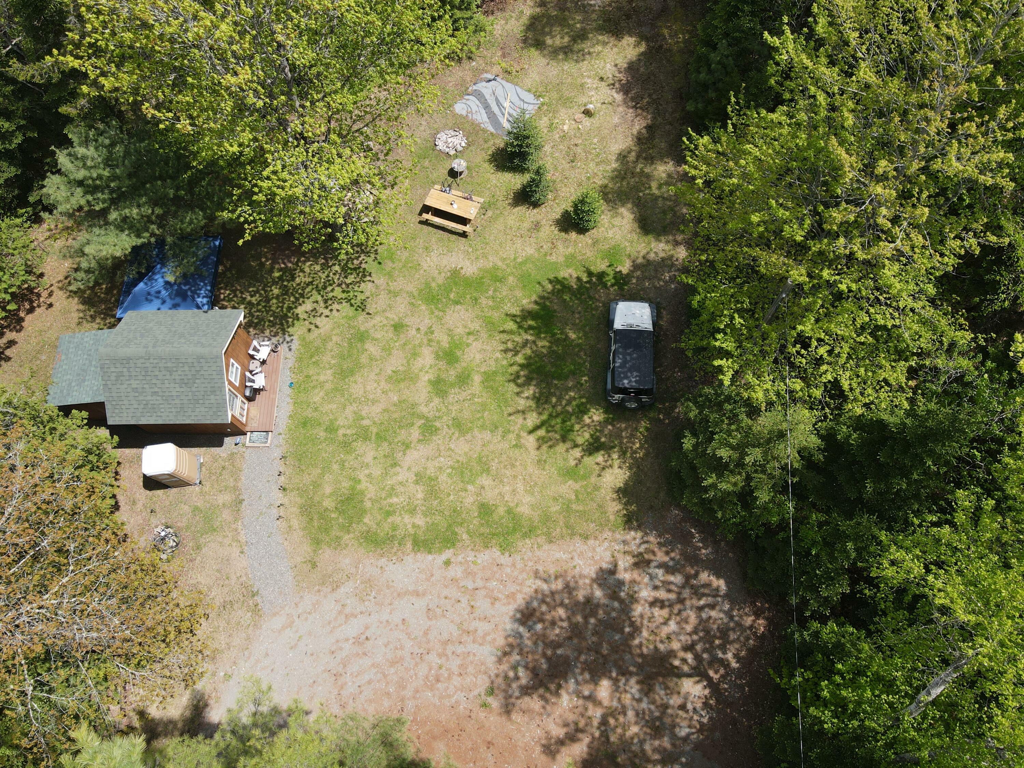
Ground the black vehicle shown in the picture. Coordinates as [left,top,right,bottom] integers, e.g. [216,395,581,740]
[604,297,662,411]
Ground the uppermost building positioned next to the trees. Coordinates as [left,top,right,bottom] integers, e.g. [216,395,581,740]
[42,312,254,433]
